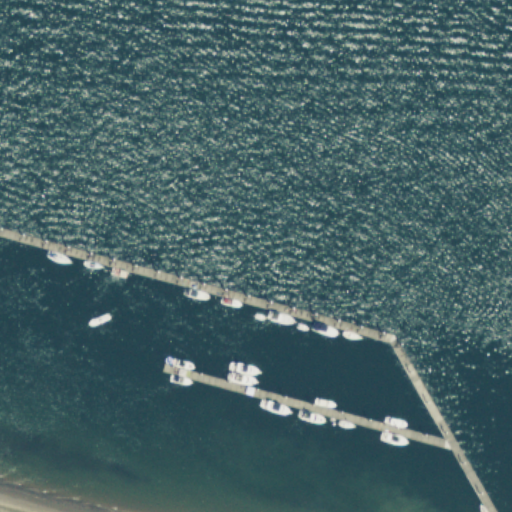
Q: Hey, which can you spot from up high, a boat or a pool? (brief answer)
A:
boat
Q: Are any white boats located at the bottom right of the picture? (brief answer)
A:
Yes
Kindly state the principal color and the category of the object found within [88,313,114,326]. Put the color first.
white boat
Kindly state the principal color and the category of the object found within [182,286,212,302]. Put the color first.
white boat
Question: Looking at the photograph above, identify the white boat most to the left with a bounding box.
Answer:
[45,252,74,264]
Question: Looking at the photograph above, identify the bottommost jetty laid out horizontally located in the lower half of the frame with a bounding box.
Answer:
[163,364,446,448]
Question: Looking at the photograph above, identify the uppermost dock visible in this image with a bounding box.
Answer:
[0,229,390,342]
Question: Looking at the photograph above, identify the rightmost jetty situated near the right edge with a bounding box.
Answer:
[393,346,498,512]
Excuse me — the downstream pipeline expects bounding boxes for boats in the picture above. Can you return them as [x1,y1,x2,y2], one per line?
[228,362,262,376]
[256,397,294,414]
[82,258,106,270]
[88,313,114,326]
[266,308,298,325]
[168,372,194,384]
[378,428,410,446]
[338,416,358,429]
[110,268,130,279]
[383,415,408,432]
[226,372,258,388]
[182,286,212,302]
[164,356,196,373]
[45,252,74,264]
[296,410,328,424]
[254,312,268,321]
[310,319,340,336]
[219,293,244,308]
[313,397,338,412]
[341,330,364,340]
[296,322,308,332]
